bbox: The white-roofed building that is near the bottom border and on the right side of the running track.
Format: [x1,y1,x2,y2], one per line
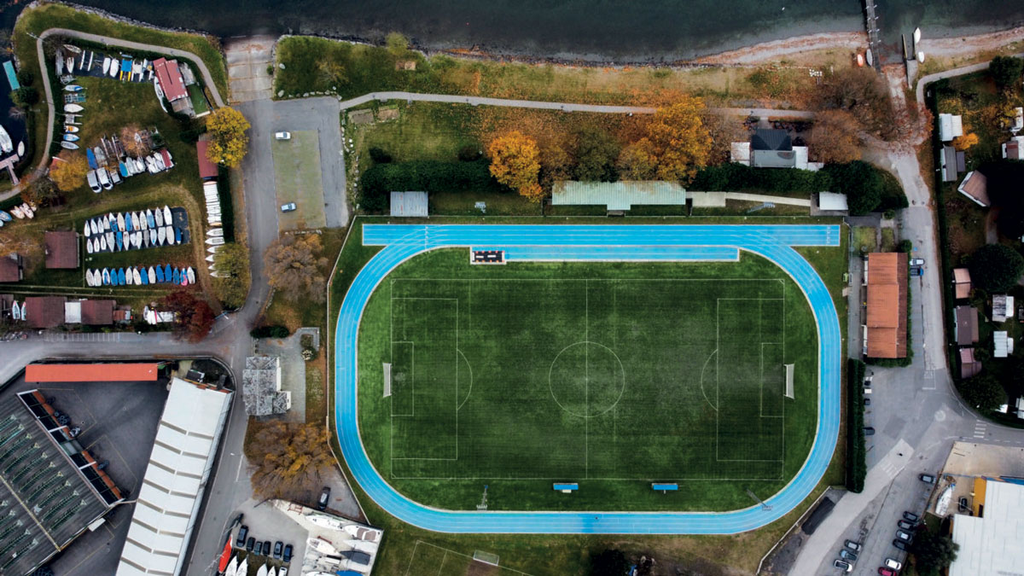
[949,475,1024,576]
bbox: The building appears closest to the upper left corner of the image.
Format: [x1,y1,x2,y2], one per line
[153,57,191,102]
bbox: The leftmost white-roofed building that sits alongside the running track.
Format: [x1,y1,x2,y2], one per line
[115,376,233,576]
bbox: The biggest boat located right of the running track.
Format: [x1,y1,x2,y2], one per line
[934,484,951,515]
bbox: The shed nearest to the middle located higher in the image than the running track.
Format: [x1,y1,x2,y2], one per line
[390,192,428,216]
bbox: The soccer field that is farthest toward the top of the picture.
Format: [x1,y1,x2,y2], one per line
[391,278,785,480]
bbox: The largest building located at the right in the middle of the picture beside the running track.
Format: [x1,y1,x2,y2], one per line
[860,253,907,358]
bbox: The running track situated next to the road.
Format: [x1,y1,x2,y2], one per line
[334,224,842,536]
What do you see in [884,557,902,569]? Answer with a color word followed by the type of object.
white vehicle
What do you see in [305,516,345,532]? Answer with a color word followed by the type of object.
white boat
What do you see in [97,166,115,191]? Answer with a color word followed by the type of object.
white vehicle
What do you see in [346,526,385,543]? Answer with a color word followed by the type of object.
white boat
